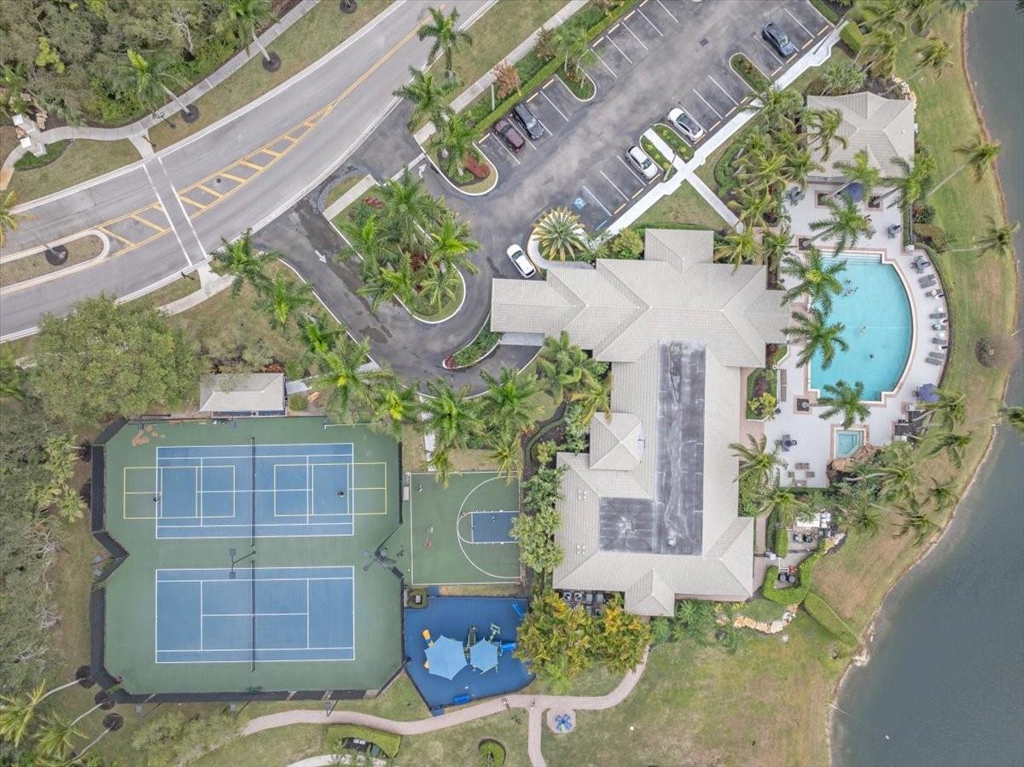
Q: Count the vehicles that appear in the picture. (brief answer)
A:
6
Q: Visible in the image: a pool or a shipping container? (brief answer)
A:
pool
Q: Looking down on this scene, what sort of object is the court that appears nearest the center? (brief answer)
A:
basketball court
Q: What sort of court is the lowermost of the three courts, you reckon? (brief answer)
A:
tennis court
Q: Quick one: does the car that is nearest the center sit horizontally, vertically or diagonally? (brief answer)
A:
diagonally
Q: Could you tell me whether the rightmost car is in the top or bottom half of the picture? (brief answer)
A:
top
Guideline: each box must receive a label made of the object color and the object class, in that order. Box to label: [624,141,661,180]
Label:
white car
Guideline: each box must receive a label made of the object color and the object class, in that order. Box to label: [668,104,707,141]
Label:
white car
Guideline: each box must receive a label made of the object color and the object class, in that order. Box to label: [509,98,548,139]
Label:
gray car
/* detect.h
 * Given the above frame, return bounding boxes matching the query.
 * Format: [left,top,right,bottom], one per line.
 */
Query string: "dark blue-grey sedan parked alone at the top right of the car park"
[762,17,797,58]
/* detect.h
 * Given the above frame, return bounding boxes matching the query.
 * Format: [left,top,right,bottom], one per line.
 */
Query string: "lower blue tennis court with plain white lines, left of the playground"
[104,553,409,694]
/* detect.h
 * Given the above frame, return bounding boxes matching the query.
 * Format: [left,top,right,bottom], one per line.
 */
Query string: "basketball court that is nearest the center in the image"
[404,471,523,586]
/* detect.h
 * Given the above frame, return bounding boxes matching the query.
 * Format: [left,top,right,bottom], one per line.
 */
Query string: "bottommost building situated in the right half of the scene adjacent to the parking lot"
[492,229,790,615]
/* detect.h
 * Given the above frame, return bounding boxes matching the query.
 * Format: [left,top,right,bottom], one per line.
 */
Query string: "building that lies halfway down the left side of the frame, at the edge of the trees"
[200,373,286,417]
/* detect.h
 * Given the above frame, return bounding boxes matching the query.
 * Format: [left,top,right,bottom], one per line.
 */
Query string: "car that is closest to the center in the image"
[503,240,538,280]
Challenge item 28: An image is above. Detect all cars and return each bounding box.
[624,141,661,180]
[503,240,538,280]
[509,98,548,139]
[668,104,707,141]
[762,17,797,58]
[491,115,529,152]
